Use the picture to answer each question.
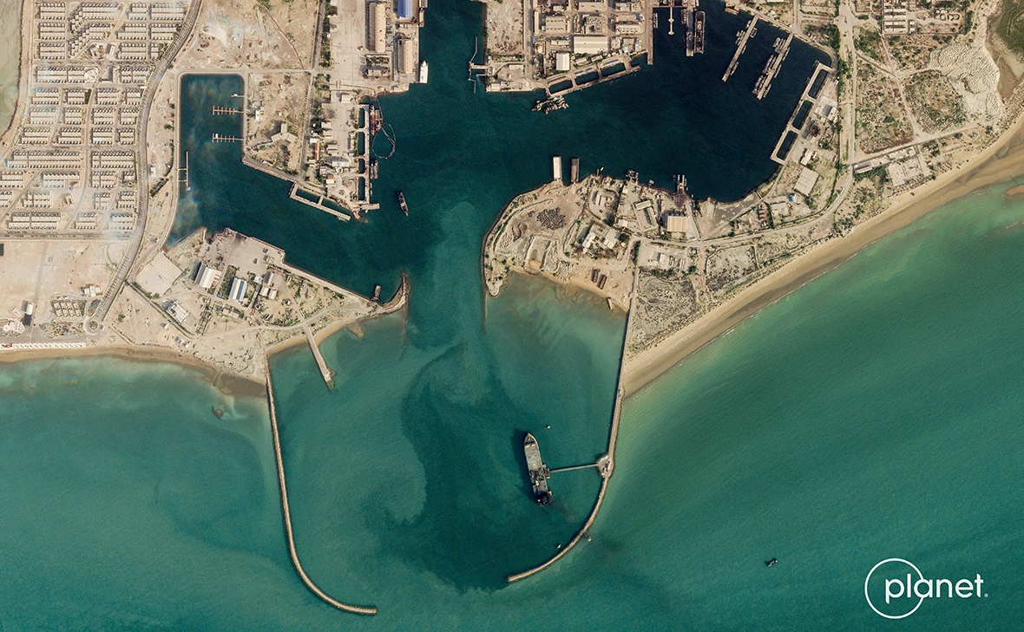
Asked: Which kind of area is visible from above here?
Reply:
port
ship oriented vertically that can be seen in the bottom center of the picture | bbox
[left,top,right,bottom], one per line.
[523,433,548,508]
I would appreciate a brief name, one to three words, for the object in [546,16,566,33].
building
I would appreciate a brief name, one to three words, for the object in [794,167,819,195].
building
